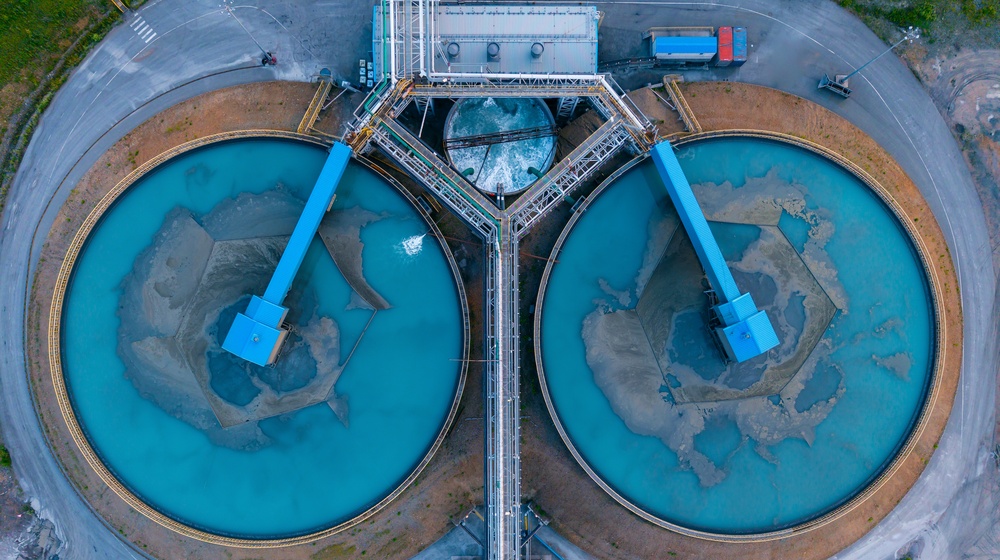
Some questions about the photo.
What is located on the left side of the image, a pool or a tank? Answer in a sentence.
It is a tank that can be seen on the left side of the image.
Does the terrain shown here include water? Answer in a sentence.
Yes, water can be seen from above here.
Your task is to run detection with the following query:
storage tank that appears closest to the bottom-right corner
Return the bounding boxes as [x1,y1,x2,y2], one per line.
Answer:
[535,128,947,542]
